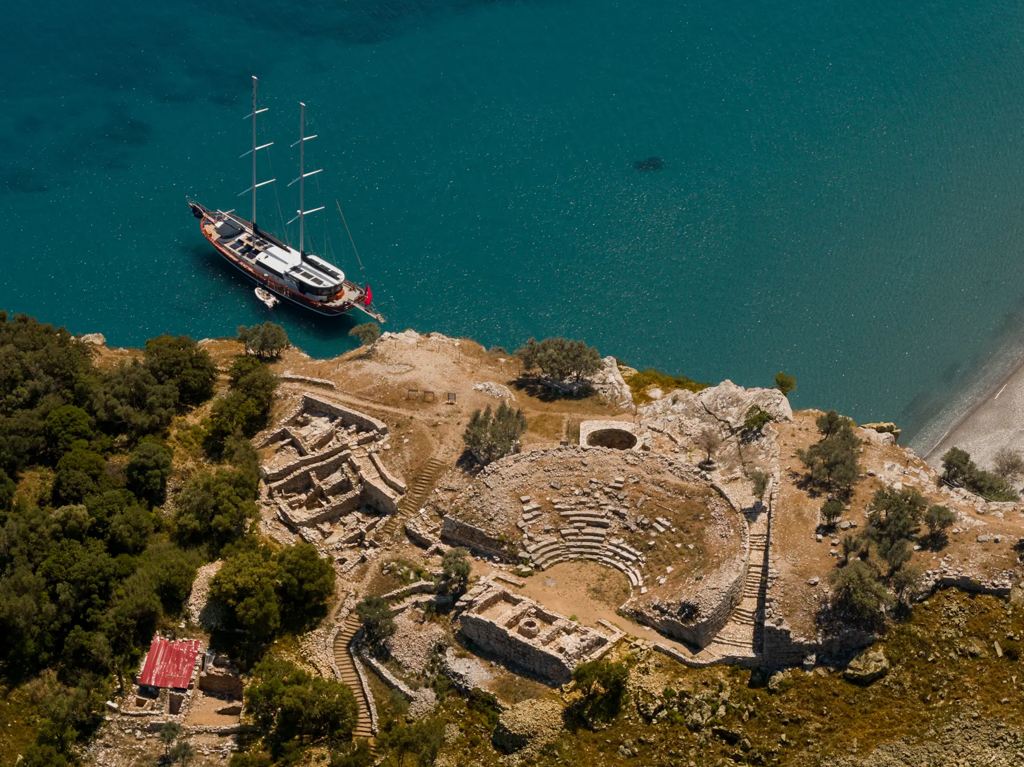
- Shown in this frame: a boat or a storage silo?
boat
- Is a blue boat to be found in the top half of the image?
No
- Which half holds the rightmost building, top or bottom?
bottom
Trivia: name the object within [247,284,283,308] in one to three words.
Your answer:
boat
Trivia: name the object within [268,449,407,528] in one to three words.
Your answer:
house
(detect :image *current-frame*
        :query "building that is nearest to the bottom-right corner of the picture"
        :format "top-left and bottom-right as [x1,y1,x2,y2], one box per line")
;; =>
[454,571,629,683]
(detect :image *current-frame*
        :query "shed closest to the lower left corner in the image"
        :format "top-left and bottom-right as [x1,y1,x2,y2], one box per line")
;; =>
[138,632,204,708]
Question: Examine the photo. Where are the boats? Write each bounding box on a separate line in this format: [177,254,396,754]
[186,75,388,327]
[247,284,283,308]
